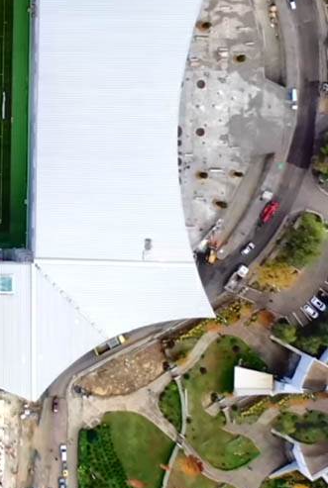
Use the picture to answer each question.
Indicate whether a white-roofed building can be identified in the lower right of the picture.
Yes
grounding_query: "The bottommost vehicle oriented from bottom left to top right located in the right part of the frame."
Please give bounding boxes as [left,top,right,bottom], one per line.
[224,264,253,293]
